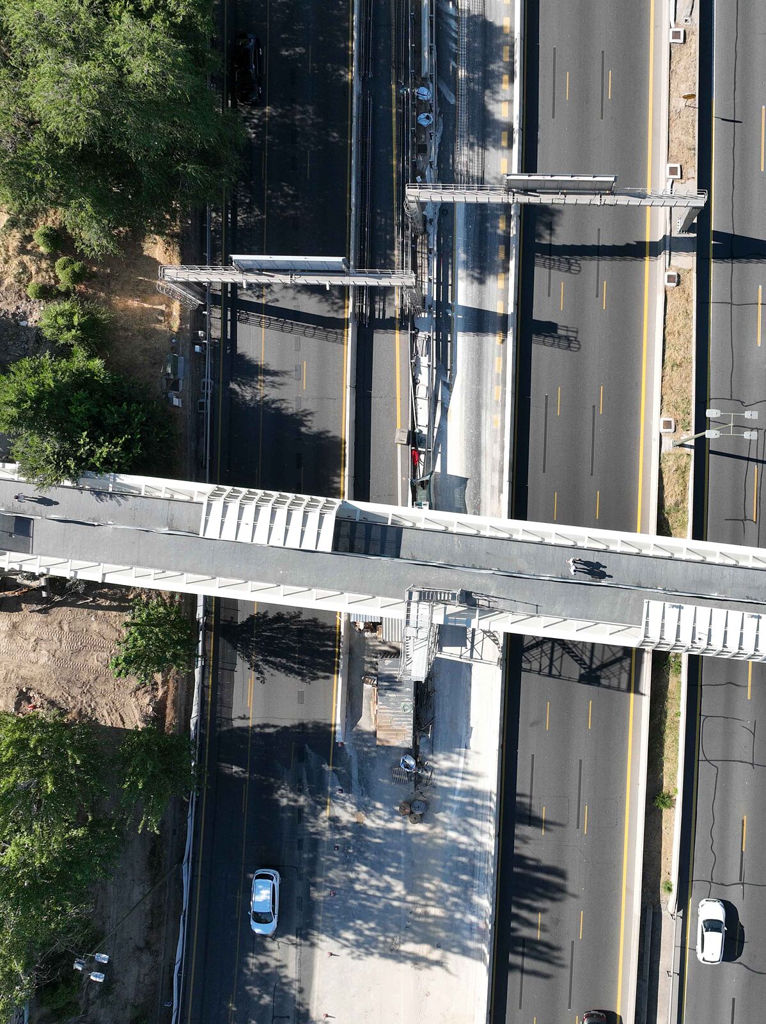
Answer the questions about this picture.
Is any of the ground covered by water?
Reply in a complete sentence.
No, no water is visible.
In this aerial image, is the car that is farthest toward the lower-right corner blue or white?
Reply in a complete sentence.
From above, the car that is farthest toward the lower-right corner appears white.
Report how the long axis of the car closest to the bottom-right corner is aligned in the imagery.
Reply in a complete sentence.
What the image shows is the car closest to the bottom-right corner lying from top to bottom.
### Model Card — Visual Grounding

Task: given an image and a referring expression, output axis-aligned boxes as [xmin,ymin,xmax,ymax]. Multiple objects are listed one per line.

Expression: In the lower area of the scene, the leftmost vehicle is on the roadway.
[248,867,280,934]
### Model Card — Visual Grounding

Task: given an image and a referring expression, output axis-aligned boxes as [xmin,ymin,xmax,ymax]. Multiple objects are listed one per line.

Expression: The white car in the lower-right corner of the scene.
[695,897,729,964]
